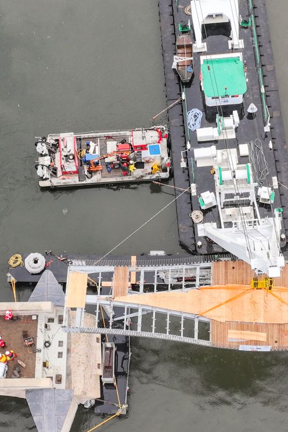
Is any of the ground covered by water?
Yes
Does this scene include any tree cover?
No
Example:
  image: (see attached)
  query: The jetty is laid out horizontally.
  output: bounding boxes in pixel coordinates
[9,252,230,285]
